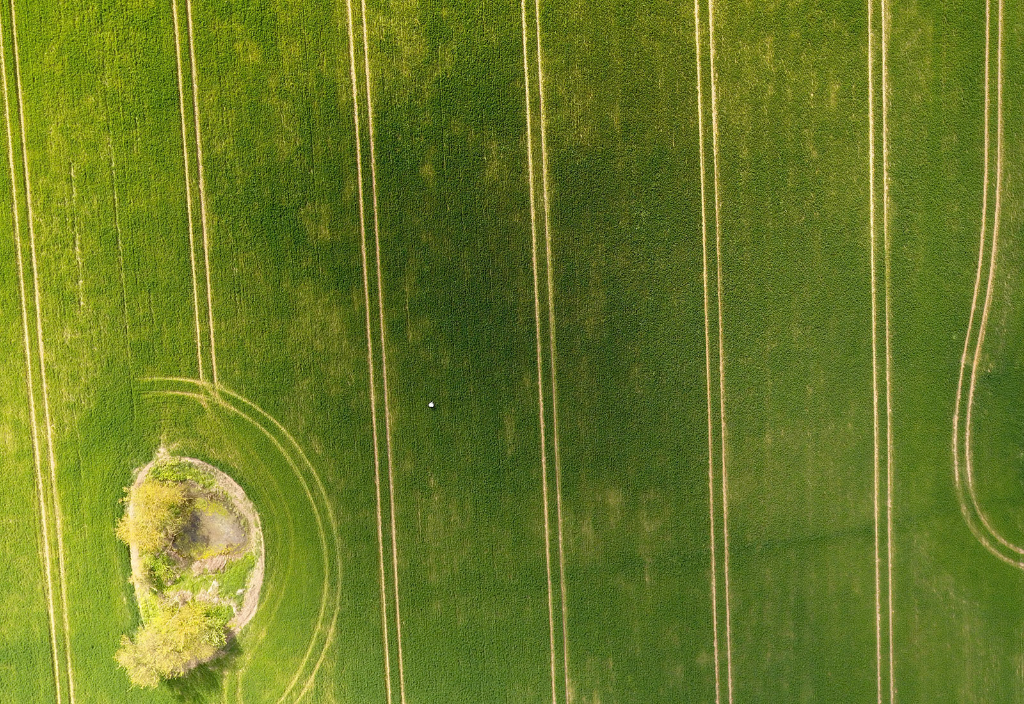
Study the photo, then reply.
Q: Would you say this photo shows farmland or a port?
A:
farmland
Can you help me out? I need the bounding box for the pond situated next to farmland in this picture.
[190,501,255,552]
